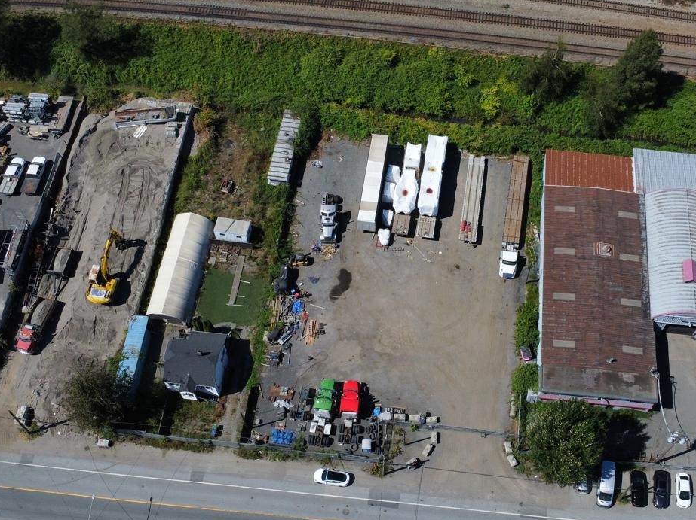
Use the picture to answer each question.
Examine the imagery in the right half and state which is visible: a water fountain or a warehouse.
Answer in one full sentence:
Visible in the right half is a warehouse.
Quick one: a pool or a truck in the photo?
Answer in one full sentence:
Of the two, only a truck appears.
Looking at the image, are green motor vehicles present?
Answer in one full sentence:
Yes, a green motor vehicle appears in the view.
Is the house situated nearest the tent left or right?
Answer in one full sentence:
You can find the house situated nearest the tent on the left side of the picture.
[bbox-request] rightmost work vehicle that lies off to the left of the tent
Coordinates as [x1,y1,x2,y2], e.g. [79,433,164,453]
[84,229,124,307]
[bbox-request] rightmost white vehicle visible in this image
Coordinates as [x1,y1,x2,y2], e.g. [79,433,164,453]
[674,472,694,512]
